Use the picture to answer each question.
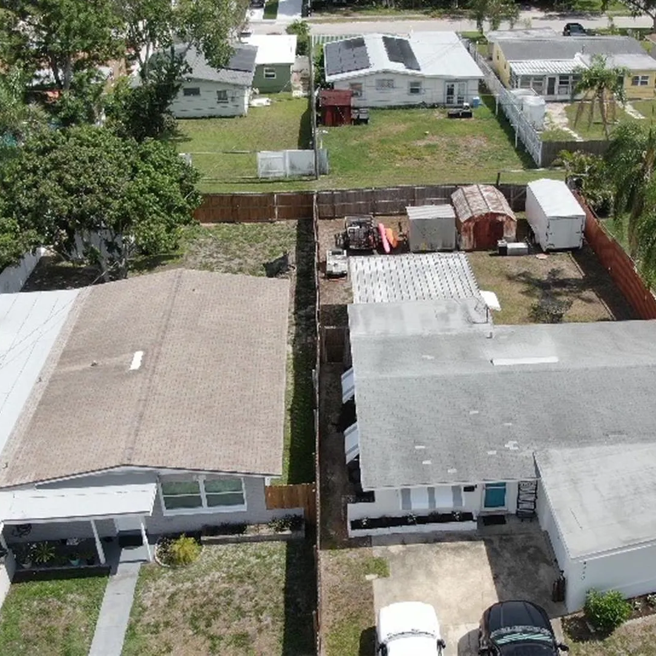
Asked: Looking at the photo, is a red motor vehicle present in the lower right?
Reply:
No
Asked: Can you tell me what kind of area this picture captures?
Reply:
residential area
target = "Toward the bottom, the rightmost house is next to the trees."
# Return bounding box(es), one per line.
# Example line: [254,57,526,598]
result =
[348,255,656,614]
